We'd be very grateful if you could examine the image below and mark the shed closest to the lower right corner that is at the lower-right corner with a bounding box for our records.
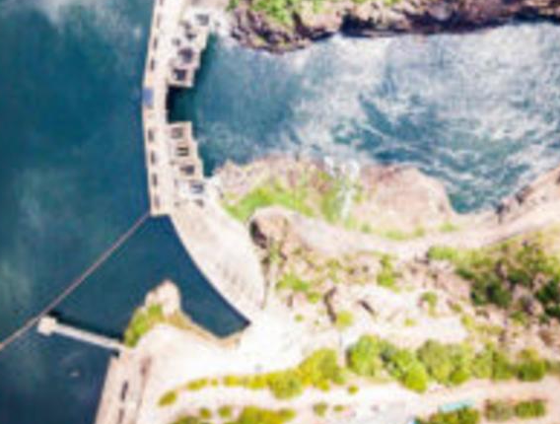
[442,399,478,415]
